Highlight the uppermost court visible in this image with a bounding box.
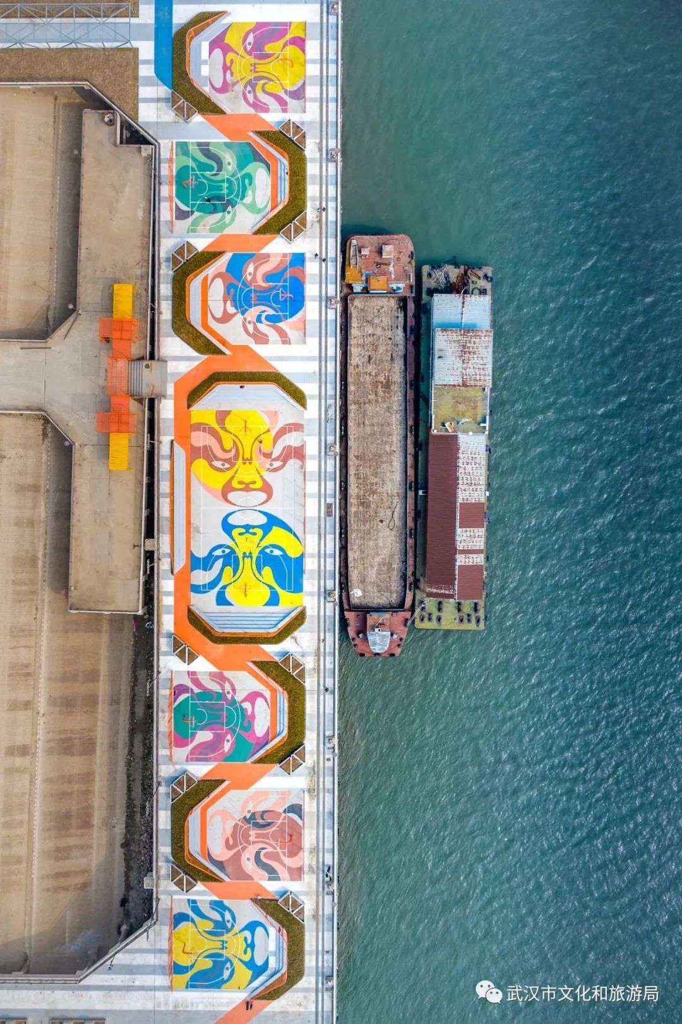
[208,21,305,113]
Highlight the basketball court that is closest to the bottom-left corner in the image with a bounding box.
[172,899,269,990]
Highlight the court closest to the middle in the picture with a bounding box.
[190,405,304,612]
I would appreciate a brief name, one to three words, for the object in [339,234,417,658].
ship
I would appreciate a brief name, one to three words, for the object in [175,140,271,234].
basketball court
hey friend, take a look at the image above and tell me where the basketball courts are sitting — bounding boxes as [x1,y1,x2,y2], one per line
[190,405,304,612]
[208,21,305,113]
[175,140,271,234]
[208,252,305,345]
[172,670,270,763]
[207,789,303,882]
[172,899,269,990]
